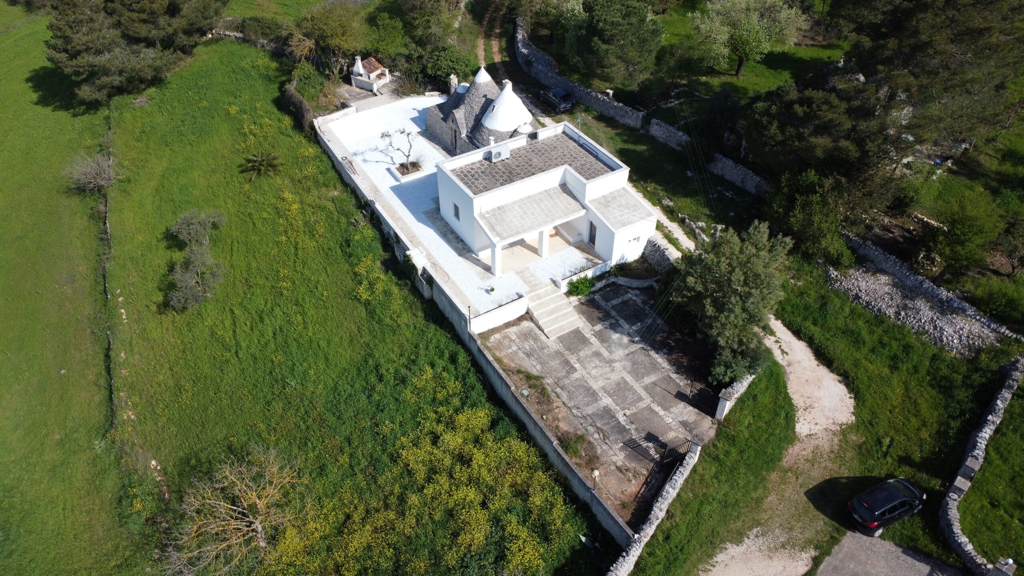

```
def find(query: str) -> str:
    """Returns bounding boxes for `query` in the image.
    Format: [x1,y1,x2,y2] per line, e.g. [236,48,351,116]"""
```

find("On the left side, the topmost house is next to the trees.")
[350,45,400,92]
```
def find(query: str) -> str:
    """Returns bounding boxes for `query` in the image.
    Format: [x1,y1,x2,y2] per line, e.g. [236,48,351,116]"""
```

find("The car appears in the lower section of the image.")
[844,472,929,536]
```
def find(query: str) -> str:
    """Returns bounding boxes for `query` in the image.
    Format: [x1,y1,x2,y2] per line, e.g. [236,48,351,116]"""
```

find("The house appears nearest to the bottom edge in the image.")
[437,122,660,276]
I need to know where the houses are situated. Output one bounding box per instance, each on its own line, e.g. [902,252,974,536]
[437,122,660,276]
[350,45,400,92]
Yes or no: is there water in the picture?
No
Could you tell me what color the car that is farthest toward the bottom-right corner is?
black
